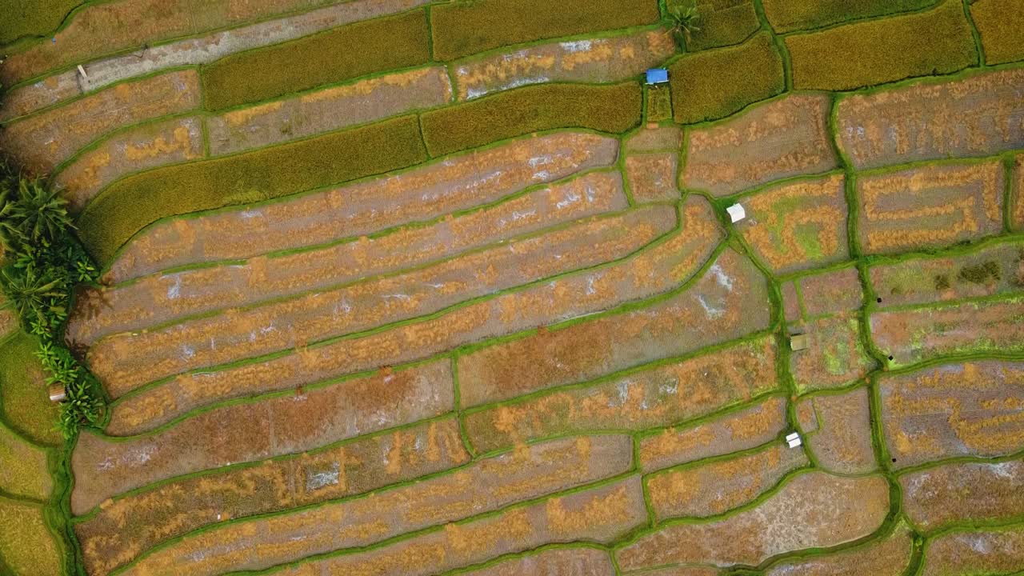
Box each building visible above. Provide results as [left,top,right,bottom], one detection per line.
[725,203,744,223]
[50,383,70,400]
[784,431,802,449]
[789,334,808,349]
[645,69,668,85]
